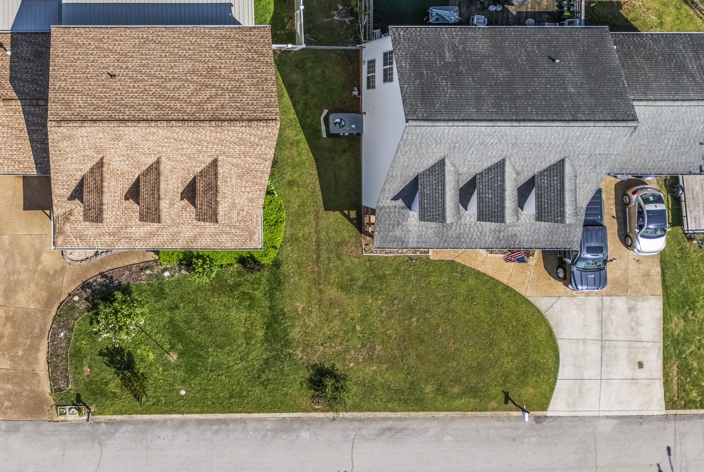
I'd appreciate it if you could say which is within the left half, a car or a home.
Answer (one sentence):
Visible within the left half is a home.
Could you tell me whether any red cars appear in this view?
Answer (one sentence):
No, there is no red car in the image.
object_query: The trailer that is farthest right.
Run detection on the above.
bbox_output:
[670,177,704,254]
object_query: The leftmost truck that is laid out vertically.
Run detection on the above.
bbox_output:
[564,193,612,294]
